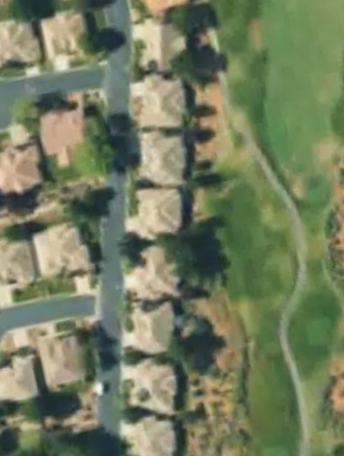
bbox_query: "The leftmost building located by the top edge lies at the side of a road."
[0,20,42,68]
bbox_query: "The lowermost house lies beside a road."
[126,418,178,456]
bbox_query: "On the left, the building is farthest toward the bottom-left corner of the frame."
[0,356,40,401]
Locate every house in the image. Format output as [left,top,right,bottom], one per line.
[0,146,42,195]
[136,19,185,72]
[34,226,89,276]
[126,304,174,353]
[0,356,40,401]
[39,113,83,166]
[0,20,42,68]
[129,248,179,300]
[126,362,176,412]
[140,133,187,184]
[126,418,178,456]
[0,239,37,289]
[42,12,85,61]
[39,340,84,387]
[135,77,185,127]
[133,189,184,236]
